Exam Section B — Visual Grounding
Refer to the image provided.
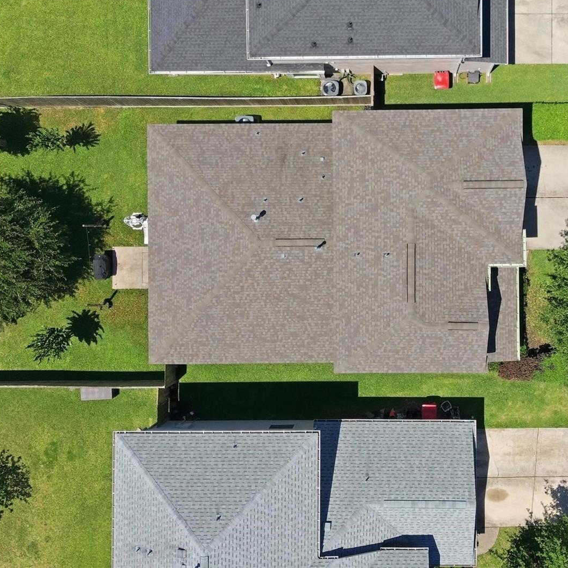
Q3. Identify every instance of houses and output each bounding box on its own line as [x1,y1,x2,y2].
[148,110,527,373]
[146,0,509,85]
[111,415,480,568]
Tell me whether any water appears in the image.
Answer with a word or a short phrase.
No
